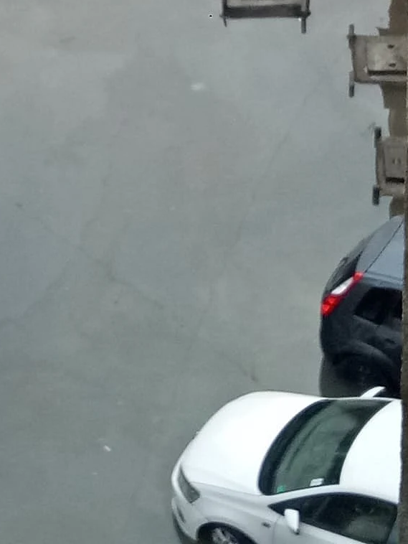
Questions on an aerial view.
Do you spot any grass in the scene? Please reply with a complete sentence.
No, the scene doesn't show any grass.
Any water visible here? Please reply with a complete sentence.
Yes, there's water in this view.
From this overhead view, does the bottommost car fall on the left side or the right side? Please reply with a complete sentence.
It is on the right.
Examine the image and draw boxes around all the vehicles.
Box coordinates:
[168,388,400,544]
[324,221,404,398]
